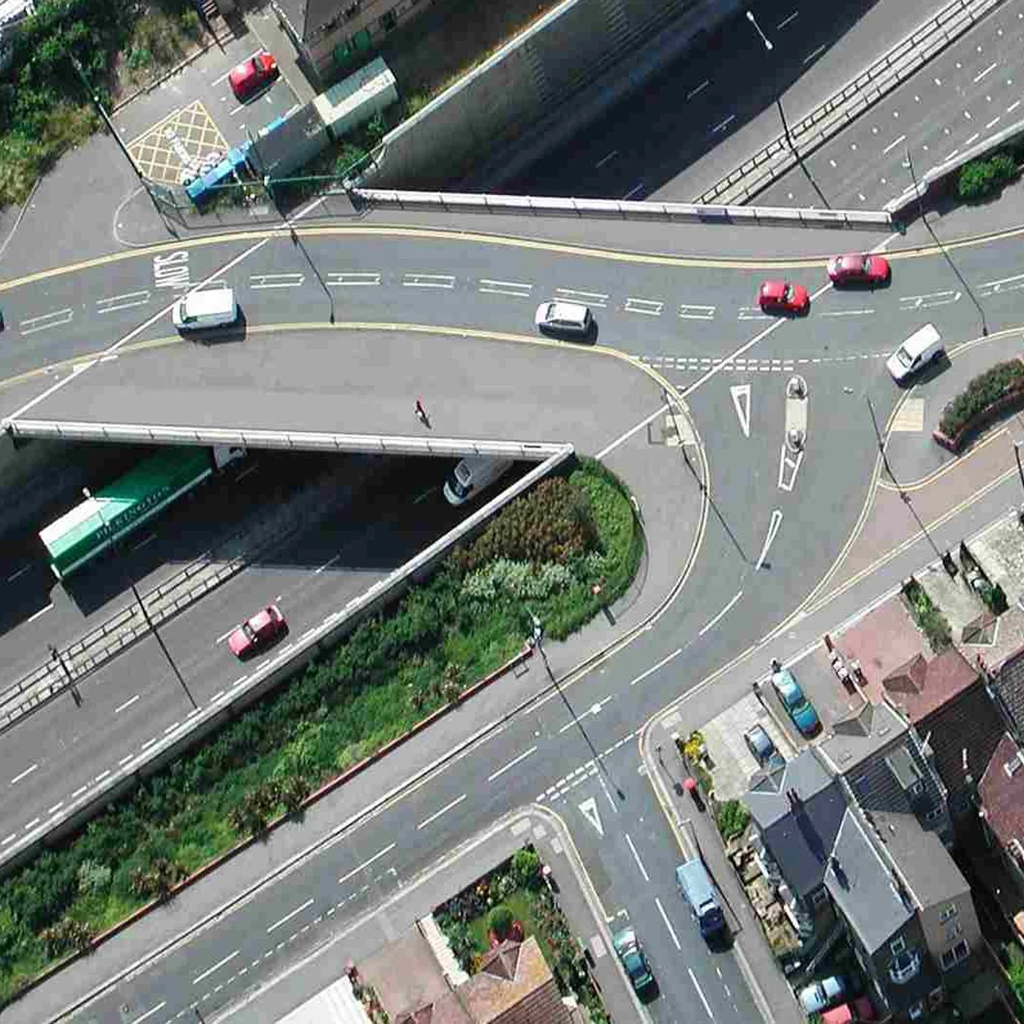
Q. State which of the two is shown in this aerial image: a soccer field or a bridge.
bridge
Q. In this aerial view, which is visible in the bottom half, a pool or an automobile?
automobile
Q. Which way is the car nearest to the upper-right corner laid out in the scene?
horizontally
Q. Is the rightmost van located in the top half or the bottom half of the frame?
top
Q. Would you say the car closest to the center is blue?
No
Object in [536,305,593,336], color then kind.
white car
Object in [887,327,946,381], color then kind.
white van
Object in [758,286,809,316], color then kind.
red car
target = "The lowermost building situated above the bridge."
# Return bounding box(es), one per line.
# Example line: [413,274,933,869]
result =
[314,62,403,161]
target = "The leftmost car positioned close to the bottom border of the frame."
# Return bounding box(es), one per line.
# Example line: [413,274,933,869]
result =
[611,933,655,995]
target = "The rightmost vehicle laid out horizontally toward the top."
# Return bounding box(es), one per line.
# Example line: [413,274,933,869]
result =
[828,258,889,287]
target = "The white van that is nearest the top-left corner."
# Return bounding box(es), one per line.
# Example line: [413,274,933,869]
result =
[176,296,238,331]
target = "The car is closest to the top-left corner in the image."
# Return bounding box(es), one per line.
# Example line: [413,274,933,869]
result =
[229,54,279,91]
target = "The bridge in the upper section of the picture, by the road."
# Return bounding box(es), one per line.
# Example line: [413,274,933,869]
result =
[5,184,901,473]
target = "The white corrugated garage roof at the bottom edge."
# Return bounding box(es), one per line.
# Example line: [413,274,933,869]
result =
[276,975,375,1024]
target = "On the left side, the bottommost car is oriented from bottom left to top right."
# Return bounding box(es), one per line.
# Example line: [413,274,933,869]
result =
[227,612,286,659]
